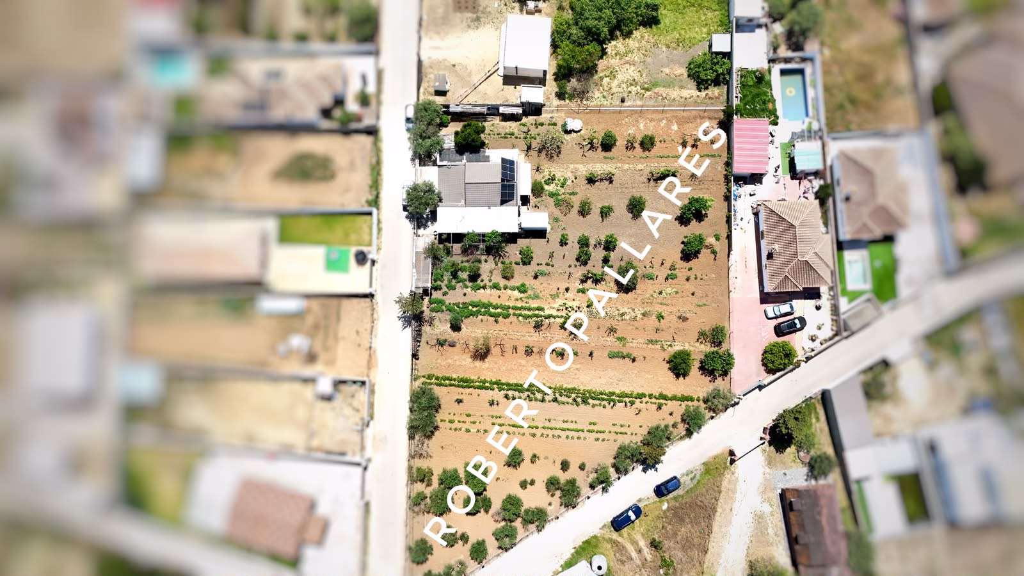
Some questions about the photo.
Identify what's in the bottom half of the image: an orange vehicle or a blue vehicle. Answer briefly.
blue vehicle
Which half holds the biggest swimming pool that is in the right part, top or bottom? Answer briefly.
top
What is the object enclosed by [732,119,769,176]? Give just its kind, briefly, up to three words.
building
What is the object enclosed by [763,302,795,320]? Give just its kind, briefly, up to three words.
car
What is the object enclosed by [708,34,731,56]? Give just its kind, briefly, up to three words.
shed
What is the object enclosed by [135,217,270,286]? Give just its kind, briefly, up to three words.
house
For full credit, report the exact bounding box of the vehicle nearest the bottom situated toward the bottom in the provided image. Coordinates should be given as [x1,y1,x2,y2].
[610,504,641,530]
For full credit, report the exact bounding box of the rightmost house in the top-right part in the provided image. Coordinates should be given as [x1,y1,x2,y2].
[940,37,1024,187]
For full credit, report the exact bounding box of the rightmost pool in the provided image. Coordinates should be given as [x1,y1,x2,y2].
[844,250,872,293]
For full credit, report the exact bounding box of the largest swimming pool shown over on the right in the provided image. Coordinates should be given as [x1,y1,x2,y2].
[772,61,817,131]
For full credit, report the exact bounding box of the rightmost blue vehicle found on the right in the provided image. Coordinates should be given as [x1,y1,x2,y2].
[653,474,681,497]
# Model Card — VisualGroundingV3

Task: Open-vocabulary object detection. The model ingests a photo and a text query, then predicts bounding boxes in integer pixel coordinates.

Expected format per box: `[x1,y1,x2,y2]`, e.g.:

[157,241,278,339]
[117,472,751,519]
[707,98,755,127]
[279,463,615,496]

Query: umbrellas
[355,250,369,264]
